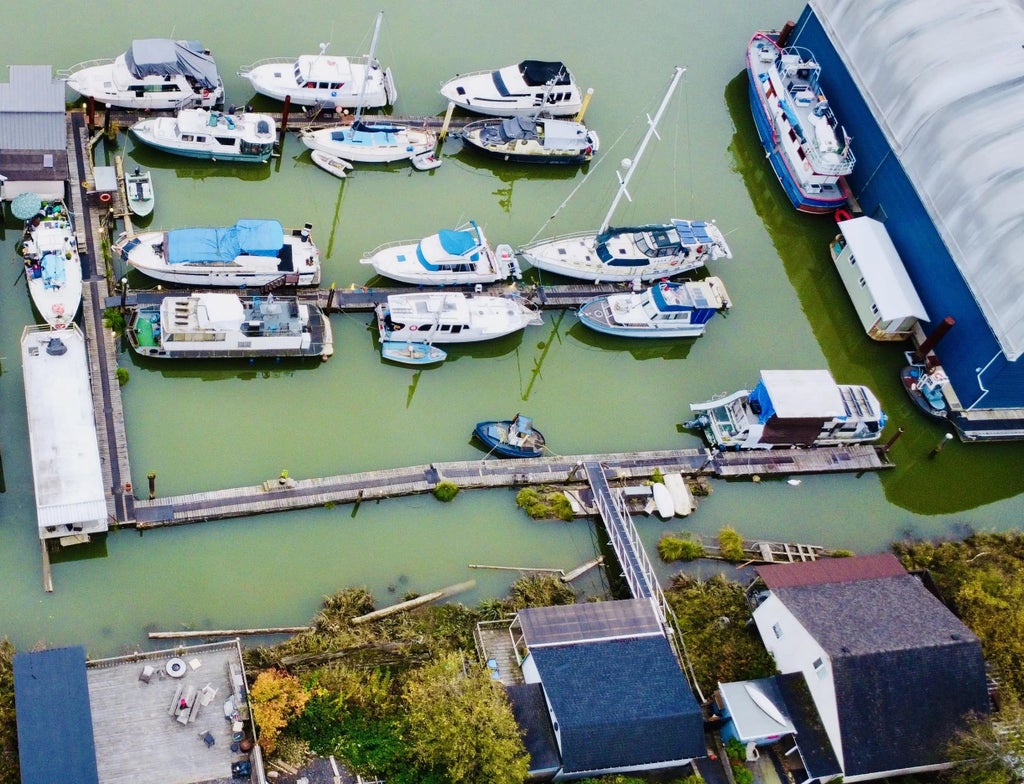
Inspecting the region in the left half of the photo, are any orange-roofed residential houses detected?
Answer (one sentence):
No, I see no orange-roofed residential house in the left half of the photo.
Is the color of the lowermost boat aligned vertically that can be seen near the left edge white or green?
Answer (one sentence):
The lowermost boat aligned vertically that can be seen near the left edge looks white in the image.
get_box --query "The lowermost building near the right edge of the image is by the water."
[742,551,988,784]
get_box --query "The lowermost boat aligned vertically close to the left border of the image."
[22,319,108,570]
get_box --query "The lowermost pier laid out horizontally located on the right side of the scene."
[701,543,824,565]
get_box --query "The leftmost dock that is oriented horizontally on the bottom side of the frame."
[136,462,439,529]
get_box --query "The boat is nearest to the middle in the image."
[474,415,545,455]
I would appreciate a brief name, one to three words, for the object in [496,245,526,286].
boat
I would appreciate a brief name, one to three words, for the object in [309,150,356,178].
boat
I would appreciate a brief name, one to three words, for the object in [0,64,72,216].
house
